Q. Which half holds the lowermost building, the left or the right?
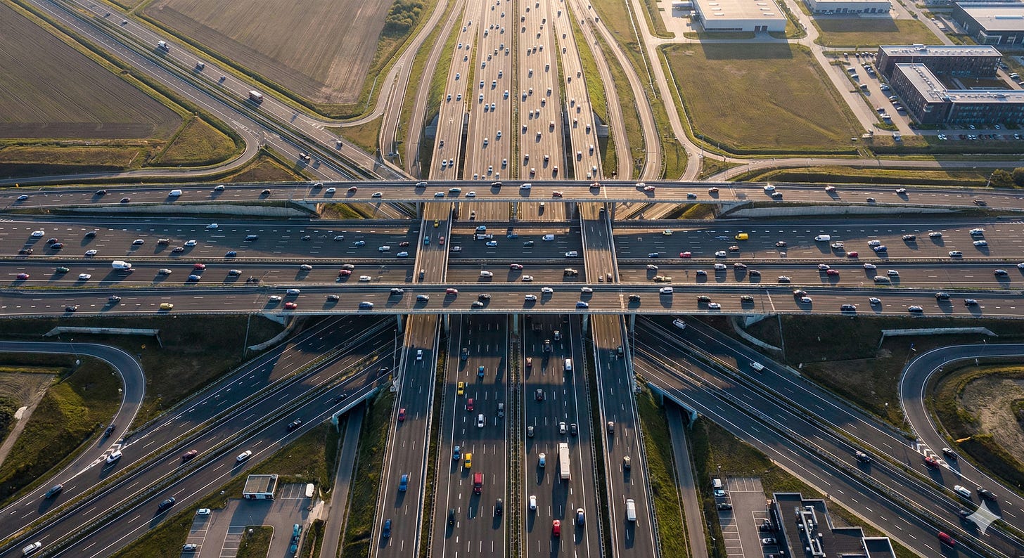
right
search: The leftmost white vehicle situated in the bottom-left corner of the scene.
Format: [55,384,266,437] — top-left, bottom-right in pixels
[22,541,42,556]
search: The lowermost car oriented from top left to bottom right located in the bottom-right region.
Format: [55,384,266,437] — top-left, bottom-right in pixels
[937,531,957,546]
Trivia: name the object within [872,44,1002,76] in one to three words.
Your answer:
building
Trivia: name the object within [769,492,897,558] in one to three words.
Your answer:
building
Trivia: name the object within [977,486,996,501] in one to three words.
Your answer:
car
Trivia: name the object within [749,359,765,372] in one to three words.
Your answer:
vehicle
